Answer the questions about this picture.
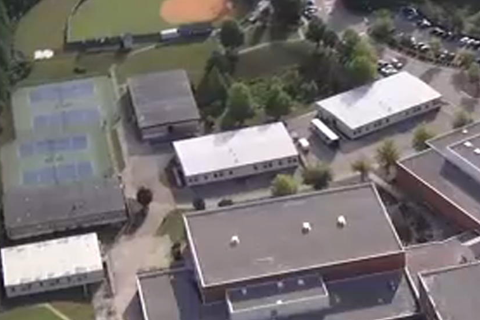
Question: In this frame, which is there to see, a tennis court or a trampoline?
tennis court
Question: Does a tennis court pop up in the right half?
No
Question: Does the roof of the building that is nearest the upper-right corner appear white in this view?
Yes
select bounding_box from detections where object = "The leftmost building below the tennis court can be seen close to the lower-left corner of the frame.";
[1,232,104,296]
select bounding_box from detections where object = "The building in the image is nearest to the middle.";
[175,123,298,187]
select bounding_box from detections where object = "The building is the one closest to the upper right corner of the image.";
[316,71,441,139]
